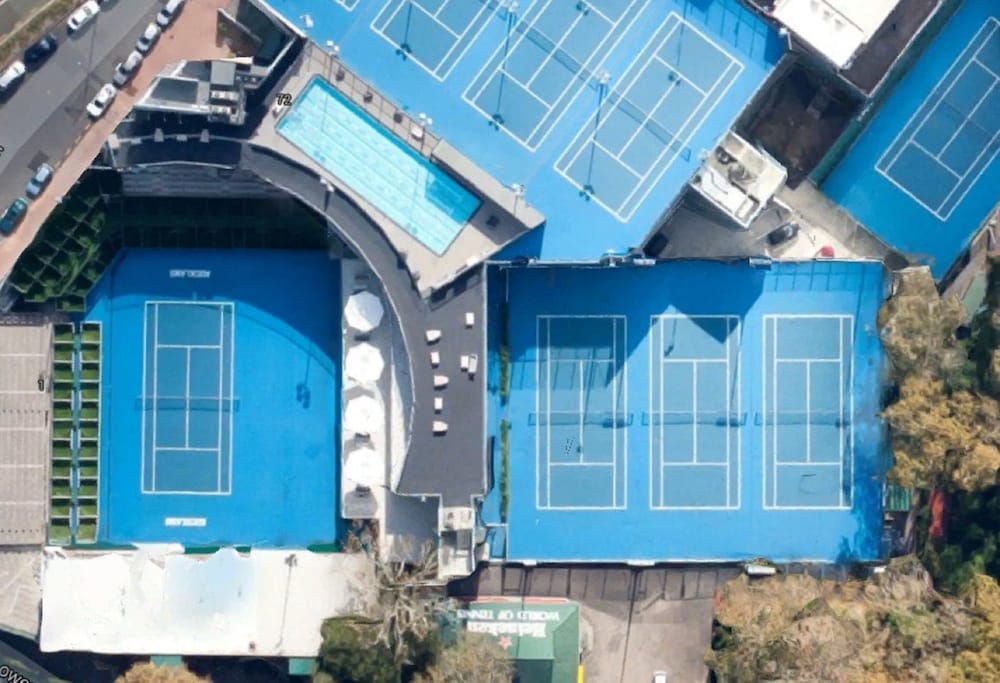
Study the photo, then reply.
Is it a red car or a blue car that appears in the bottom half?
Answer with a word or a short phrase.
red car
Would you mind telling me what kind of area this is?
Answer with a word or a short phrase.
sports ground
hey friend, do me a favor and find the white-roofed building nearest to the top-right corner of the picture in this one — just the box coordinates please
[768,0,898,72]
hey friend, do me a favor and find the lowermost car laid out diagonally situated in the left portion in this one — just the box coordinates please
[0,198,28,235]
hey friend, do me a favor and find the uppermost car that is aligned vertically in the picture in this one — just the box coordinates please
[928,492,945,535]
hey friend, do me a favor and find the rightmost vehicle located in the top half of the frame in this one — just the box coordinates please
[764,220,802,246]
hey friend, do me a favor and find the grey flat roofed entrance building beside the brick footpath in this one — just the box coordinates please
[134,57,266,124]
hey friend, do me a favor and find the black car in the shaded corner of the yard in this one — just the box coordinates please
[642,227,669,260]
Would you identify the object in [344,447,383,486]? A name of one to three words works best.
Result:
umbrella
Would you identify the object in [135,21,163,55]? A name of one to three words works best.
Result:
car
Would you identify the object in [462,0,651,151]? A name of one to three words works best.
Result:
tennis court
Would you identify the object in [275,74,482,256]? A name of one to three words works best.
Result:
swimming pool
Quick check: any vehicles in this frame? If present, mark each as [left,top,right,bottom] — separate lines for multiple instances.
[85,83,118,117]
[23,32,59,64]
[928,492,945,535]
[66,0,102,32]
[25,163,55,197]
[642,227,669,260]
[156,0,188,24]
[0,60,26,92]
[0,198,28,235]
[135,21,163,55]
[764,220,802,246]
[113,51,143,85]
